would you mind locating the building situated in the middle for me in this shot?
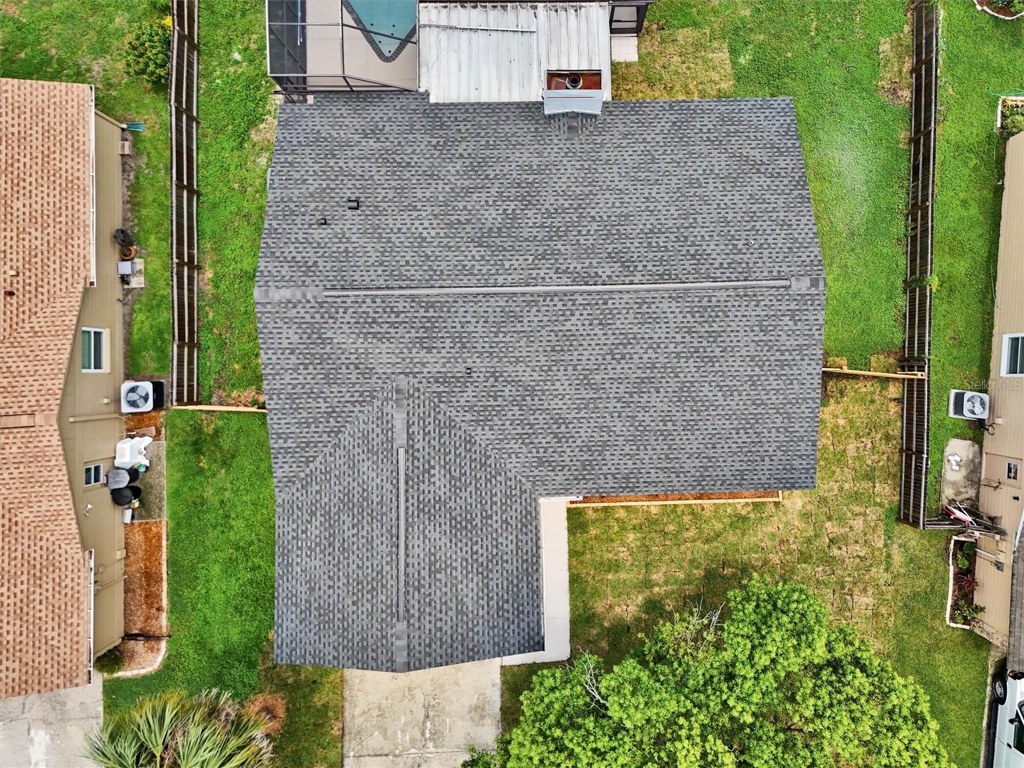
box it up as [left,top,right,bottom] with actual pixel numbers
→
[254,0,825,672]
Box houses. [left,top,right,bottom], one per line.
[254,0,825,672]
[972,133,1024,675]
[0,73,130,696]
